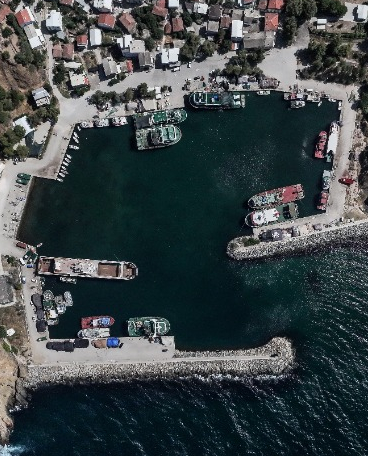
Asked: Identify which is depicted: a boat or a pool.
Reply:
boat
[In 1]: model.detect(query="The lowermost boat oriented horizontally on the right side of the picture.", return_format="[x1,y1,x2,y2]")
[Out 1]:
[249,202,303,226]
